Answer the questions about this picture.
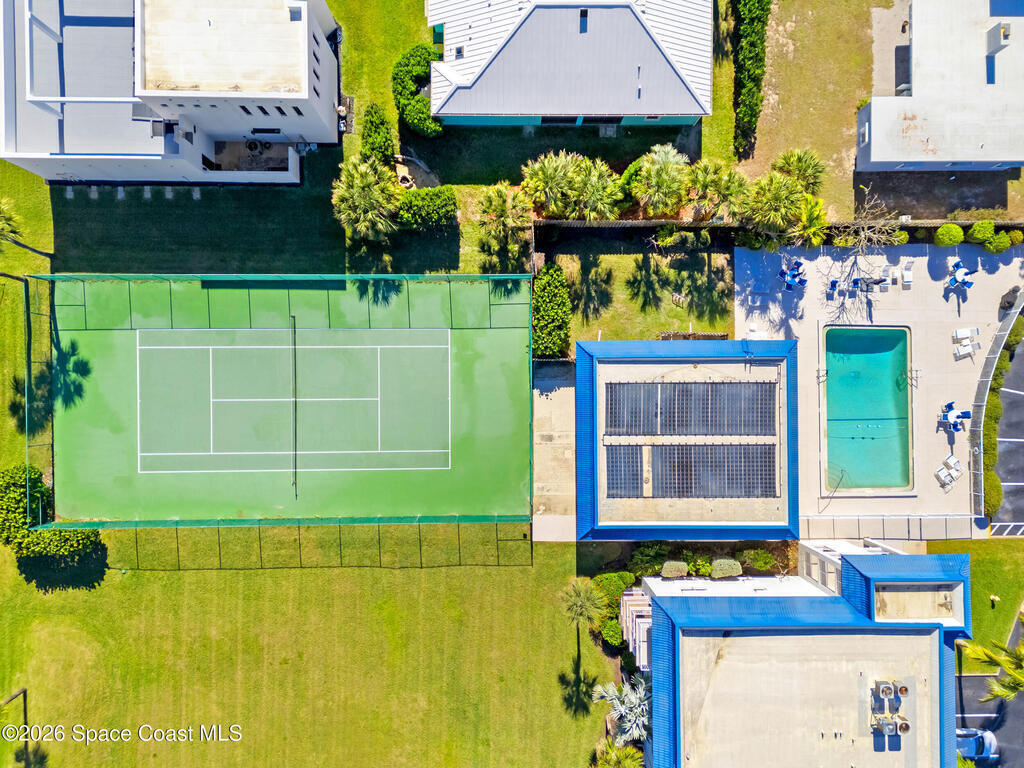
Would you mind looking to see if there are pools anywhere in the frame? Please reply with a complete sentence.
Yes, I can see a pool in this picture.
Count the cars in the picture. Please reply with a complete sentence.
The photo contains exactly 1 car.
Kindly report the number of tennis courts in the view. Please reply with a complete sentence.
The photo contains exactly 1 tennis court.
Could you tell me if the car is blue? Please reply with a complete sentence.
Yes, the car appears blue.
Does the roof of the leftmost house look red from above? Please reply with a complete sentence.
No, the roof of the leftmost house is white.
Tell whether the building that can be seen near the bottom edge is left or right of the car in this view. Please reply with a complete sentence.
Relative to the car, the building that can be seen near the bottom edge is on the left.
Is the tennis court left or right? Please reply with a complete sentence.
The tennis court is on the left side of the image.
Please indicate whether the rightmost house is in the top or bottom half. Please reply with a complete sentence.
The top half of the photo is where the rightmost house is.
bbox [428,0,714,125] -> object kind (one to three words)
house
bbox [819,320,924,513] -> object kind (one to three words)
swimming pool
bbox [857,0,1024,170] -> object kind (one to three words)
house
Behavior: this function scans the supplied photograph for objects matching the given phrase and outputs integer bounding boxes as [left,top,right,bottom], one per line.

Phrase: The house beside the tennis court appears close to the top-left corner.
[1,0,337,184]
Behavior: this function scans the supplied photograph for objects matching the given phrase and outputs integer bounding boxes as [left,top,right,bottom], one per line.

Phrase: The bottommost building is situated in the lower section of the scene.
[620,537,972,768]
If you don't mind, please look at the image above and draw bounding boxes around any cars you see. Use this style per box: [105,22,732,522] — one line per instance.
[956,729,995,763]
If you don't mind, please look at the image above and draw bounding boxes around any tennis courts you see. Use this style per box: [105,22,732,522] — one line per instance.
[54,280,532,520]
